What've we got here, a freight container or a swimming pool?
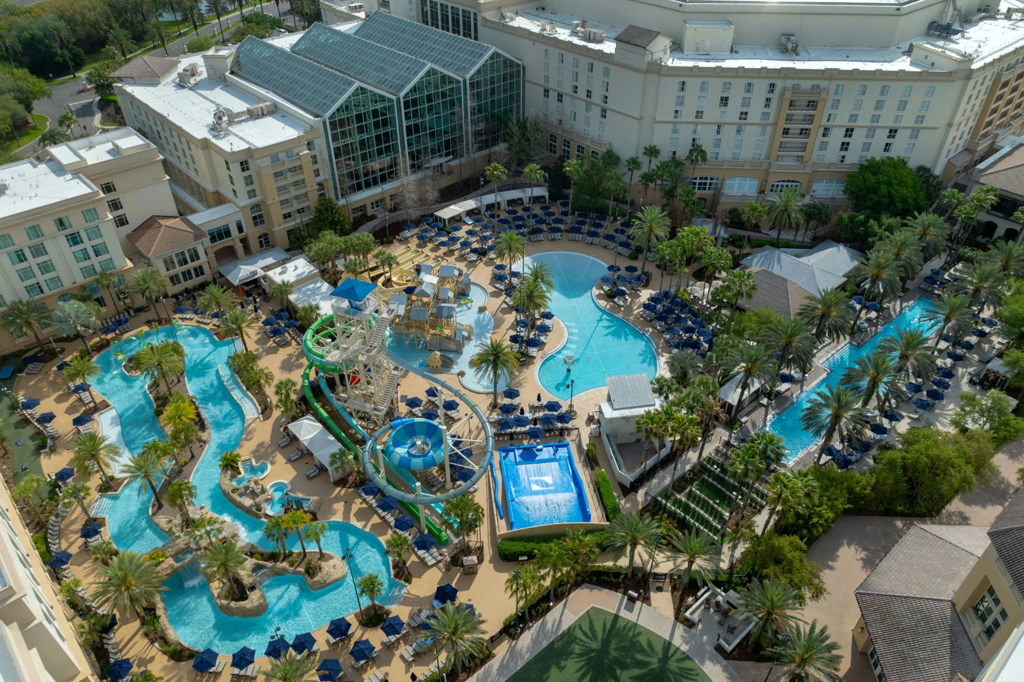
swimming pool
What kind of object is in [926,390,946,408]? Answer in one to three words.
umbrella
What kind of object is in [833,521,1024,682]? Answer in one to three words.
building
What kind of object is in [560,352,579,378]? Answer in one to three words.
fountain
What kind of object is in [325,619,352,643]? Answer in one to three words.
umbrella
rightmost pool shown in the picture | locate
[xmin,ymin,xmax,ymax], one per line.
[770,297,943,465]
